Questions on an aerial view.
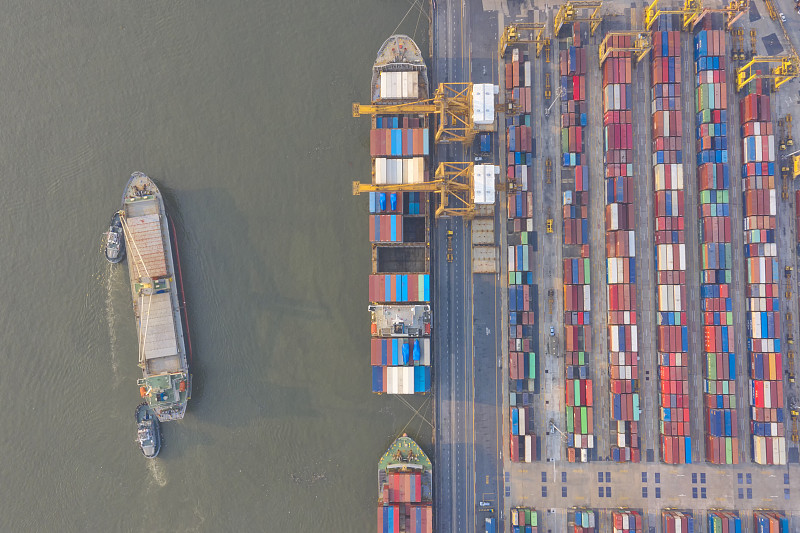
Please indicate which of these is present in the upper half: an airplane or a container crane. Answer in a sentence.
Visible in the upper half is a container crane.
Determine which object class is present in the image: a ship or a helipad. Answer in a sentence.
It is a ship that can be seen here.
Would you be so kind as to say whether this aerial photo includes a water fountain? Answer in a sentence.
No, the frame has no water fountain in it.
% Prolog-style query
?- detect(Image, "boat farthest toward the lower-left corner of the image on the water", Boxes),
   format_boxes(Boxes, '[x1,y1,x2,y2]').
[133,402,162,459]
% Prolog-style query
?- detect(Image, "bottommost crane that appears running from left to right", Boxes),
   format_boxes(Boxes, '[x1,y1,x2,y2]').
[352,158,538,228]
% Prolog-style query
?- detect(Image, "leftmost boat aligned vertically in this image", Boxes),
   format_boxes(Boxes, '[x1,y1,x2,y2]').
[102,212,127,263]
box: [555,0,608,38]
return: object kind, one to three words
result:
container crane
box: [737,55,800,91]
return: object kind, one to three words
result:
container crane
